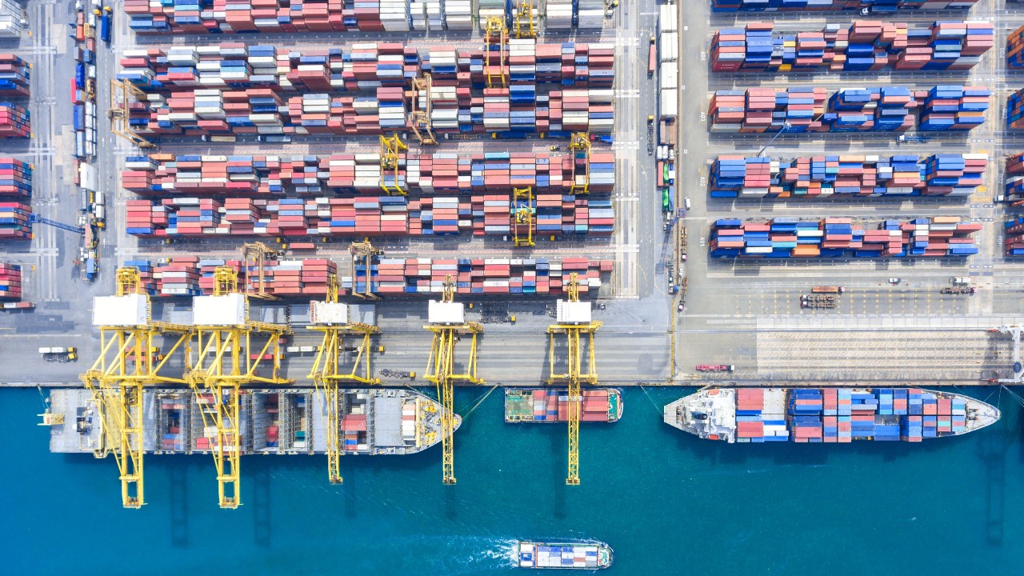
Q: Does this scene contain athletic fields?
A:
No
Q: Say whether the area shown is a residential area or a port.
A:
port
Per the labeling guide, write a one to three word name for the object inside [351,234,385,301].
container crane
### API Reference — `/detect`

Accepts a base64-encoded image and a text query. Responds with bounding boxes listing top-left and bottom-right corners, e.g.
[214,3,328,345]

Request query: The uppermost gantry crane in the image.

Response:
[513,0,539,40]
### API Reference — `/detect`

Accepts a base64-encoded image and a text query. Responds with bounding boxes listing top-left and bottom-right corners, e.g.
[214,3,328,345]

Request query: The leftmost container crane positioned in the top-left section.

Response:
[111,83,158,147]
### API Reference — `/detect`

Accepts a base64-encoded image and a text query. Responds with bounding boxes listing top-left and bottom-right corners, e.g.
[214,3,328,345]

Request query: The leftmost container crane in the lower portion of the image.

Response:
[81,270,215,510]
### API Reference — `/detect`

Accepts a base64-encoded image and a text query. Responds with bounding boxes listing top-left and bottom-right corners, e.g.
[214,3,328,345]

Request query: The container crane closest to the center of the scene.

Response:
[512,184,537,249]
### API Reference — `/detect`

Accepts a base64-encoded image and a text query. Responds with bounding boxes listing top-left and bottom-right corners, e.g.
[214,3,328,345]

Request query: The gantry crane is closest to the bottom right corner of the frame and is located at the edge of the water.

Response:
[974,325,1024,377]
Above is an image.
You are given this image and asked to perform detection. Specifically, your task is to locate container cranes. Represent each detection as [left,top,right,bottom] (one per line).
[512,184,537,249]
[302,272,386,487]
[513,0,539,40]
[81,270,215,510]
[111,83,158,147]
[185,269,300,510]
[410,76,441,146]
[974,325,1024,377]
[351,234,385,301]
[541,271,603,488]
[421,272,491,488]
[245,236,284,302]
[569,125,594,196]
[379,130,411,197]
